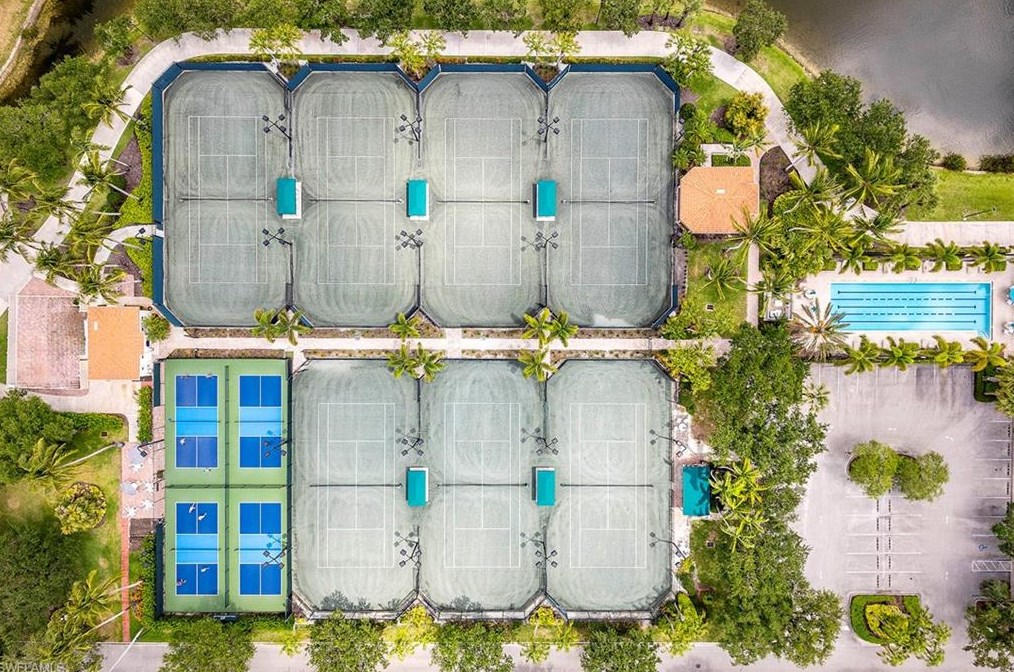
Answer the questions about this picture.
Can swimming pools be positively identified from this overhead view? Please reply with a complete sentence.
Yes, there's a swimming pool here.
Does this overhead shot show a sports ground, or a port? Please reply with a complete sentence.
This image shows a sports ground.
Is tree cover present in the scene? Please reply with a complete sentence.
Yes, tree cover shows up in the scene.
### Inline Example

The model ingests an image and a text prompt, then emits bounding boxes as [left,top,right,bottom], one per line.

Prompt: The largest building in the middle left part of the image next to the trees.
[87,306,150,381]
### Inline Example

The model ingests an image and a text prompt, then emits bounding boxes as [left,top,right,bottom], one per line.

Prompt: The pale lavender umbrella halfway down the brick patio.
[117,482,135,499]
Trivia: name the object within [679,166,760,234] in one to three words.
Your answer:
building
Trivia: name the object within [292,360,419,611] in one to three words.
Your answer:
tennis court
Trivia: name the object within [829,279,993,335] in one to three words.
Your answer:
swimming pool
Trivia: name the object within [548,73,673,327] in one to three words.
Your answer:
tennis court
